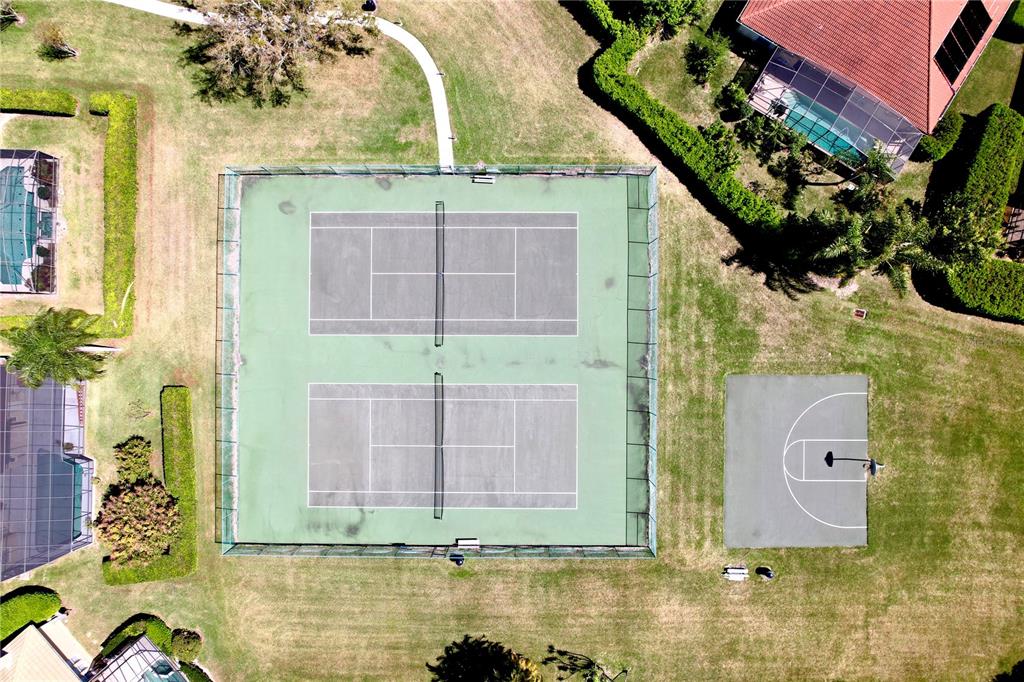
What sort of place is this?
sports ground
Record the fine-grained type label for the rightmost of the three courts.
basketball court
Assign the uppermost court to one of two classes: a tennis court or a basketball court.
tennis court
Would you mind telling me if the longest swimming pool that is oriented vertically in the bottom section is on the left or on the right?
left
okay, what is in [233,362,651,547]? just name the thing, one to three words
tennis court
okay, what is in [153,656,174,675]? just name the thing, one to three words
swimming pool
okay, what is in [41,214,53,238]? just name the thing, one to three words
swimming pool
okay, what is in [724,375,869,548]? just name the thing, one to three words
basketball court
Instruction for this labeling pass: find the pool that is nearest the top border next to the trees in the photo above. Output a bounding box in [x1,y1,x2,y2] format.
[781,89,877,165]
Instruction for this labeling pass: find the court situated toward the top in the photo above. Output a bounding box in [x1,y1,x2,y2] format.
[233,174,651,362]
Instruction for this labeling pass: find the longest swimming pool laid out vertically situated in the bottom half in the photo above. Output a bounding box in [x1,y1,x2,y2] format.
[63,448,83,545]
